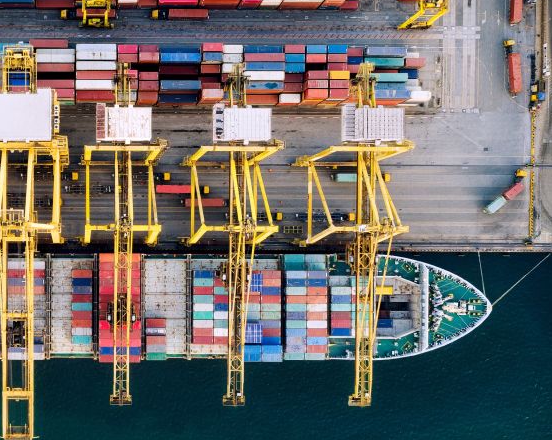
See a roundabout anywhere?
No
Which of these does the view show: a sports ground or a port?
port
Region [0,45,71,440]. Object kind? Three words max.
container crane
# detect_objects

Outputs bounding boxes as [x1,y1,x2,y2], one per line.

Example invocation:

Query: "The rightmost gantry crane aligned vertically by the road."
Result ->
[294,64,417,405]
